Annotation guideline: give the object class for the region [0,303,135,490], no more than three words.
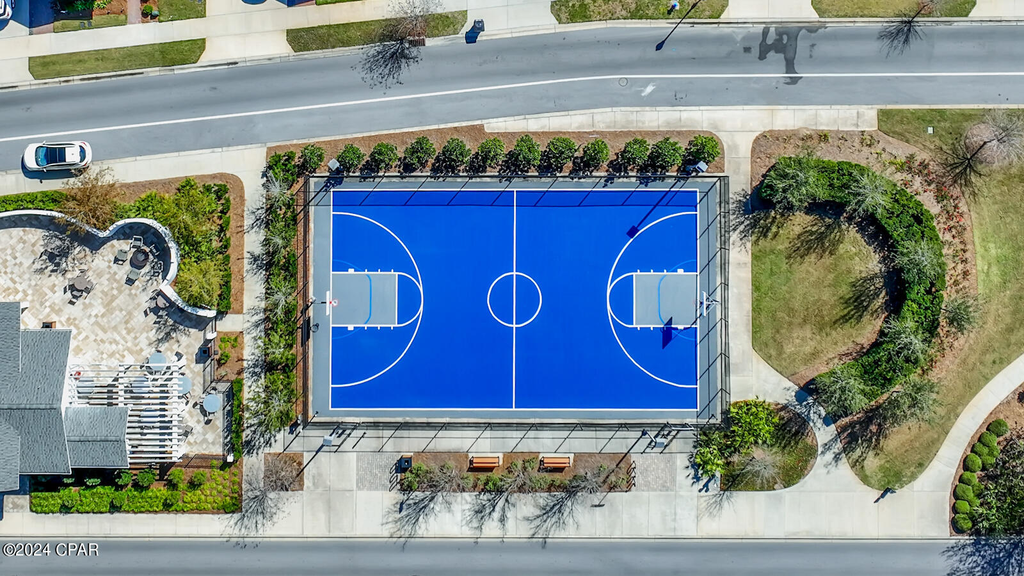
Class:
building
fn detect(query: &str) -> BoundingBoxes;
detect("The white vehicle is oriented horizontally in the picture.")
[24,140,95,173]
